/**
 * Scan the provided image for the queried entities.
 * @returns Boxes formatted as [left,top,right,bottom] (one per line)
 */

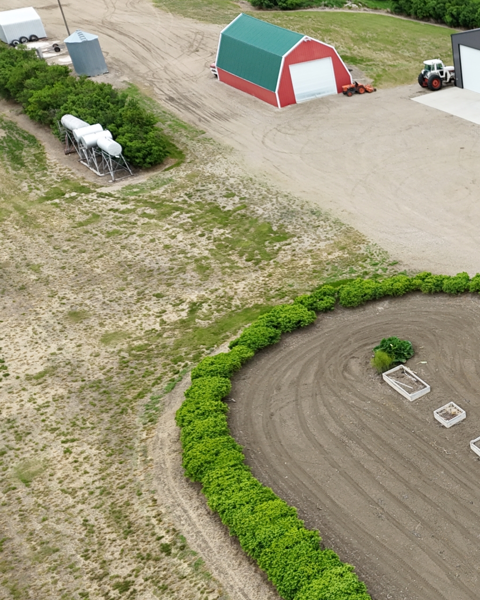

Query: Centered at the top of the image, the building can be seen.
[212,12,354,106]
